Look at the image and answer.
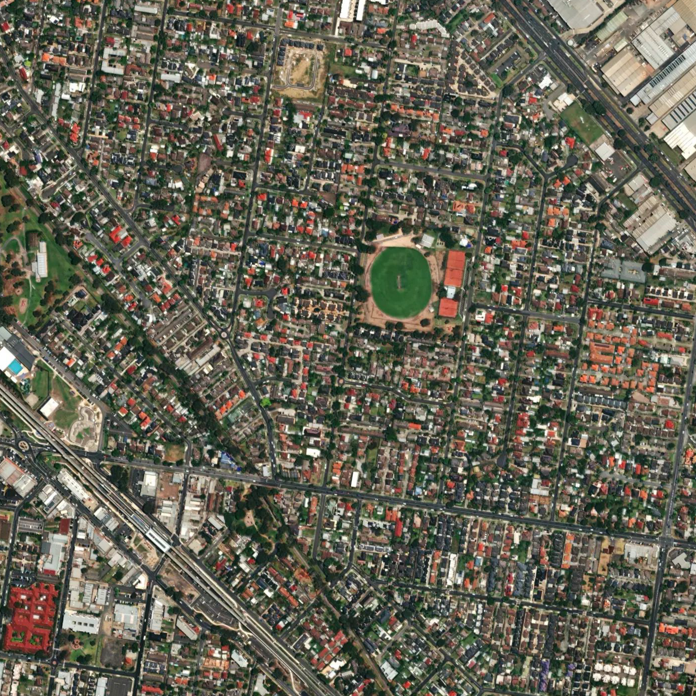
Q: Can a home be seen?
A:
Yes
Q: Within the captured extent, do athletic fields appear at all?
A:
Yes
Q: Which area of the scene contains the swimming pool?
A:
left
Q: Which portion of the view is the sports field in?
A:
center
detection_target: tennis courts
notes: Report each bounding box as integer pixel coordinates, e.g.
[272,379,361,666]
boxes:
[448,251,466,269]
[438,299,458,317]
[445,269,464,286]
